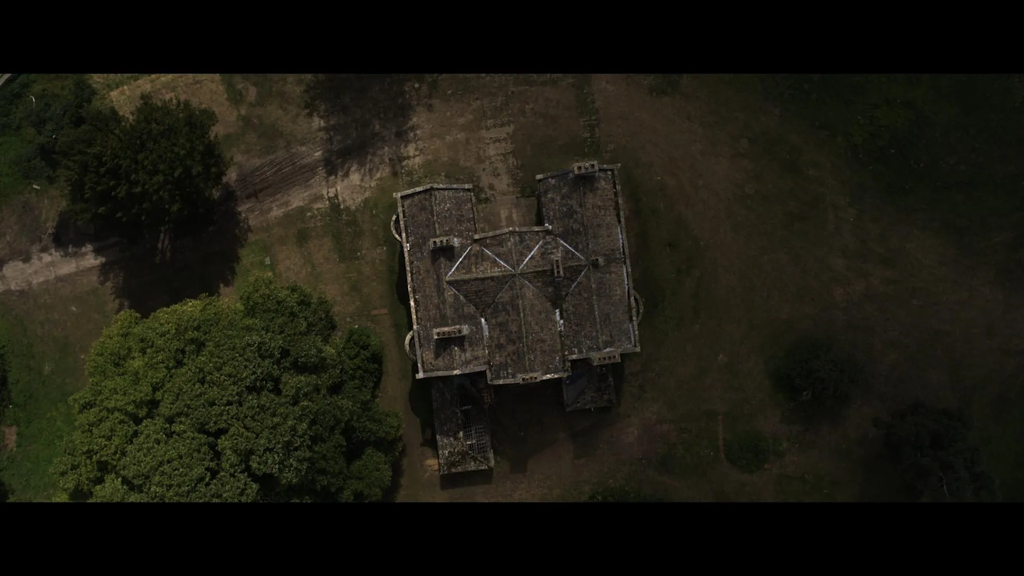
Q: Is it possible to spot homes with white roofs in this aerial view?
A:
No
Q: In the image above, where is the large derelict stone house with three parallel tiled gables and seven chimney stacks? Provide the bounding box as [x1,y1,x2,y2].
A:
[390,163,645,385]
